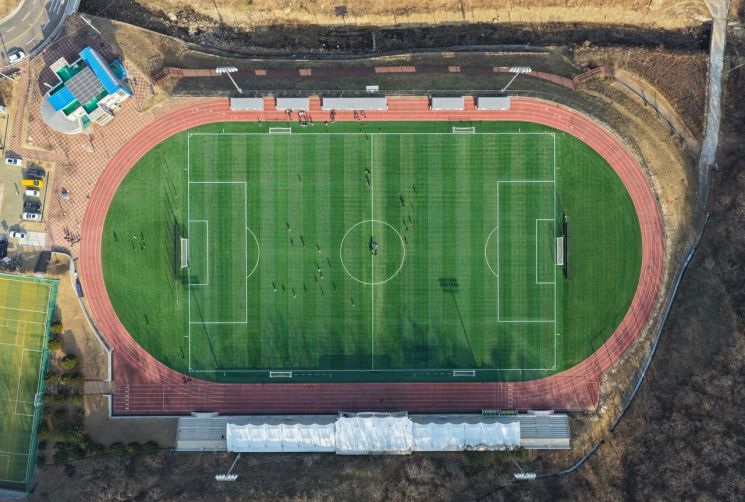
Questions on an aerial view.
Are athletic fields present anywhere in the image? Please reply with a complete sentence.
Yes, the frame does contain an athletic field.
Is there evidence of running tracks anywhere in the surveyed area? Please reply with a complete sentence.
Yes, you can see a running track in this photo.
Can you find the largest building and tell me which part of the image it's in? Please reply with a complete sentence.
Look in the top left portion of the view to spot the largest building.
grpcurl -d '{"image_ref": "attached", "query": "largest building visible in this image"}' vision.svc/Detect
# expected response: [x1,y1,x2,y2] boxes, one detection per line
[40,44,142,135]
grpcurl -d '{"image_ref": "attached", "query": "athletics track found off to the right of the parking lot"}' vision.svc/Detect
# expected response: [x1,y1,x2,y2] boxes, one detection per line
[80,97,664,415]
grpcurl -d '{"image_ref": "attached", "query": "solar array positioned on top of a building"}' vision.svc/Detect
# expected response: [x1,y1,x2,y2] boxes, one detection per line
[64,65,104,106]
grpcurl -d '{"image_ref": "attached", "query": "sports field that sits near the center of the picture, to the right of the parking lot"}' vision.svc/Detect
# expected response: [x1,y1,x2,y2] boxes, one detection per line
[102,122,642,383]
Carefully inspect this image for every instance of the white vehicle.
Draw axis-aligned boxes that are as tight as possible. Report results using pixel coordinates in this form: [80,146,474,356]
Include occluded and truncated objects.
[6,156,23,164]
[10,231,27,239]
[23,212,41,220]
[8,51,27,63]
[25,189,41,196]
